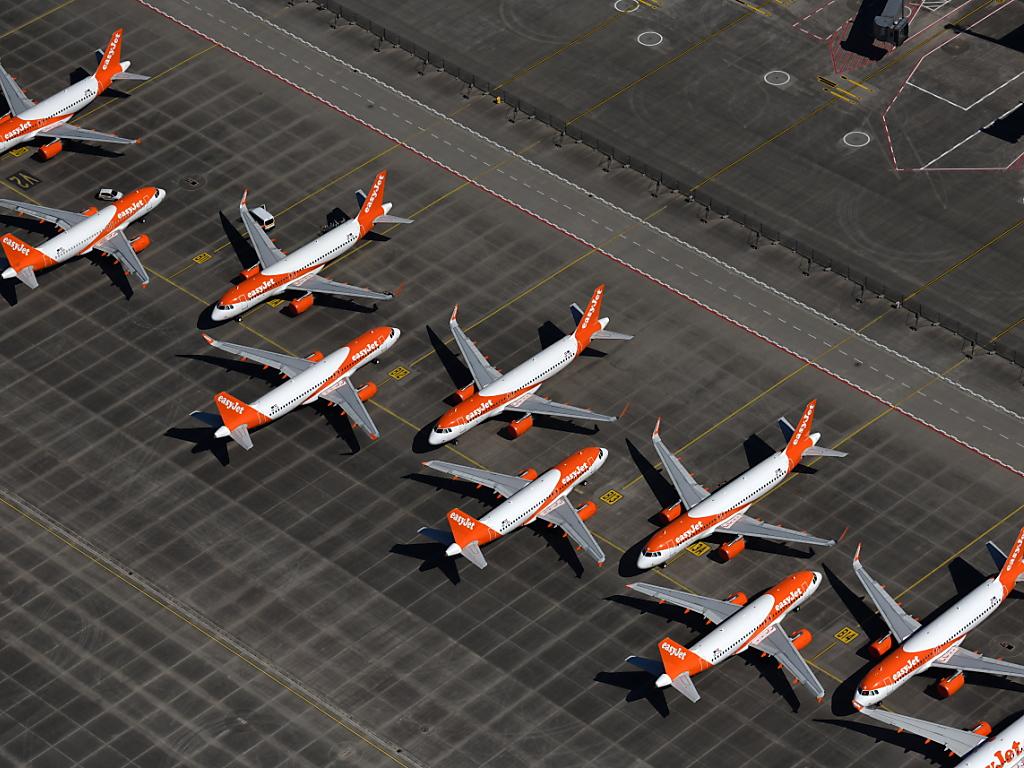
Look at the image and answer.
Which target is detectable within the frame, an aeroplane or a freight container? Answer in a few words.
aeroplane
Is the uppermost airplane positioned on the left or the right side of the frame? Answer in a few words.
left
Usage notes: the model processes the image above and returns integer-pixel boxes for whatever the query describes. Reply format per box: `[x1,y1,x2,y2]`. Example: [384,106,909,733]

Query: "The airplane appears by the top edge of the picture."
[0,30,152,162]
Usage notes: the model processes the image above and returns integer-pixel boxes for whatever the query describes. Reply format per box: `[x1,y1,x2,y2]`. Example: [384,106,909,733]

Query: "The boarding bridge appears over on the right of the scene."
[873,0,911,47]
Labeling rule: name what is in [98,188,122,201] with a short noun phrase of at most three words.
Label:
vehicle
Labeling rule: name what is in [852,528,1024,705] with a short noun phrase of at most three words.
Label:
airplane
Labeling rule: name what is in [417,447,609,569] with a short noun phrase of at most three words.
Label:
airplane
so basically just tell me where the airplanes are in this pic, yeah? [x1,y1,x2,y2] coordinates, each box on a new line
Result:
[427,284,636,445]
[210,169,415,320]
[859,705,1024,768]
[0,30,152,162]
[417,447,609,569]
[852,528,1024,705]
[626,571,826,702]
[191,326,401,449]
[636,399,848,569]
[0,187,168,288]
